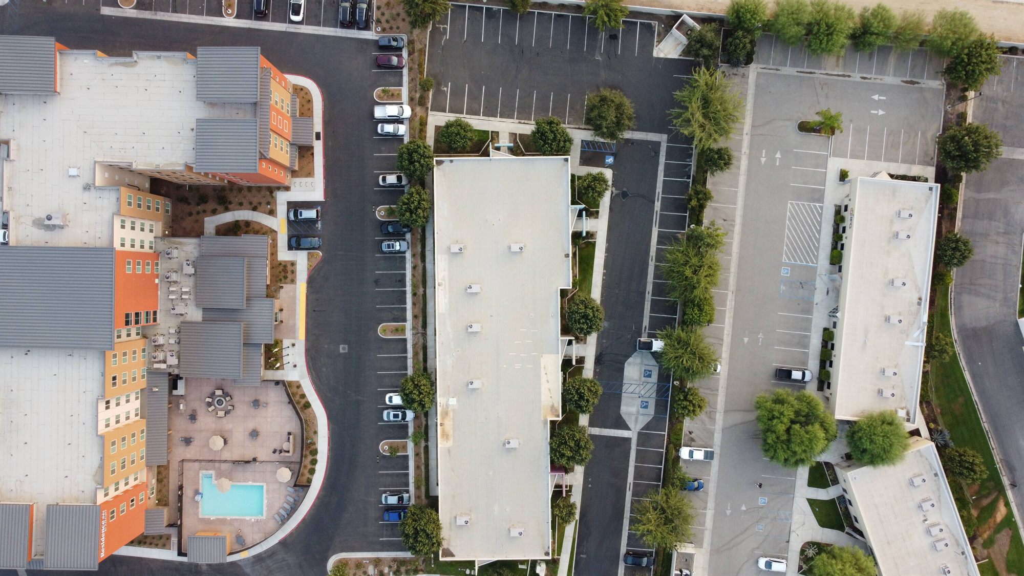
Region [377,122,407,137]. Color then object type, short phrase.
white car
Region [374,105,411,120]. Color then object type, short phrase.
white vehicle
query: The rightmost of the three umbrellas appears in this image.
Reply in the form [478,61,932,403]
[276,467,292,482]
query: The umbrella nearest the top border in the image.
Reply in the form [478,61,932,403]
[209,435,225,451]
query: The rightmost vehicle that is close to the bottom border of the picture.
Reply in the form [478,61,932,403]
[756,556,787,571]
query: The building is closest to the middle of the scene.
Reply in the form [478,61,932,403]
[434,140,589,576]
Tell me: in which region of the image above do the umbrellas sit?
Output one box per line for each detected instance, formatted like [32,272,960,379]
[276,467,292,482]
[209,435,225,451]
[216,477,231,493]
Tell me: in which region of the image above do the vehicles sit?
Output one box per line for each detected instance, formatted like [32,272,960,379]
[705,360,721,374]
[773,367,812,383]
[290,207,322,221]
[382,491,411,505]
[339,0,353,28]
[377,54,406,69]
[384,508,409,520]
[381,239,409,253]
[378,36,405,50]
[377,122,407,137]
[374,105,411,120]
[290,0,304,22]
[355,0,369,29]
[381,220,411,234]
[0,229,8,244]
[291,236,323,250]
[383,408,416,422]
[256,0,269,19]
[678,445,714,460]
[623,552,654,567]
[379,173,409,187]
[385,392,411,406]
[0,214,8,228]
[756,556,787,571]
[635,337,670,353]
